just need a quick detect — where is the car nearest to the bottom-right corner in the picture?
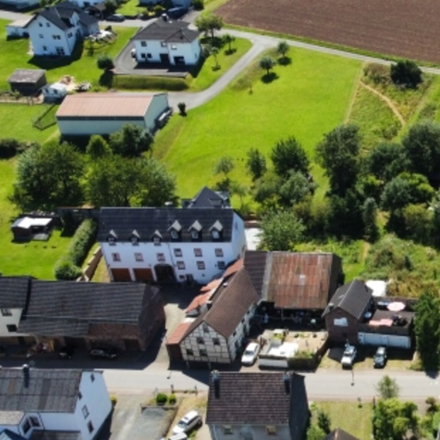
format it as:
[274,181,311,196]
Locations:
[373,343,387,369]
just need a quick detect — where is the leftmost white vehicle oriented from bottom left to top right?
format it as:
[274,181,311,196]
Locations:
[170,406,204,435]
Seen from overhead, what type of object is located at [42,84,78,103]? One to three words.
camper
